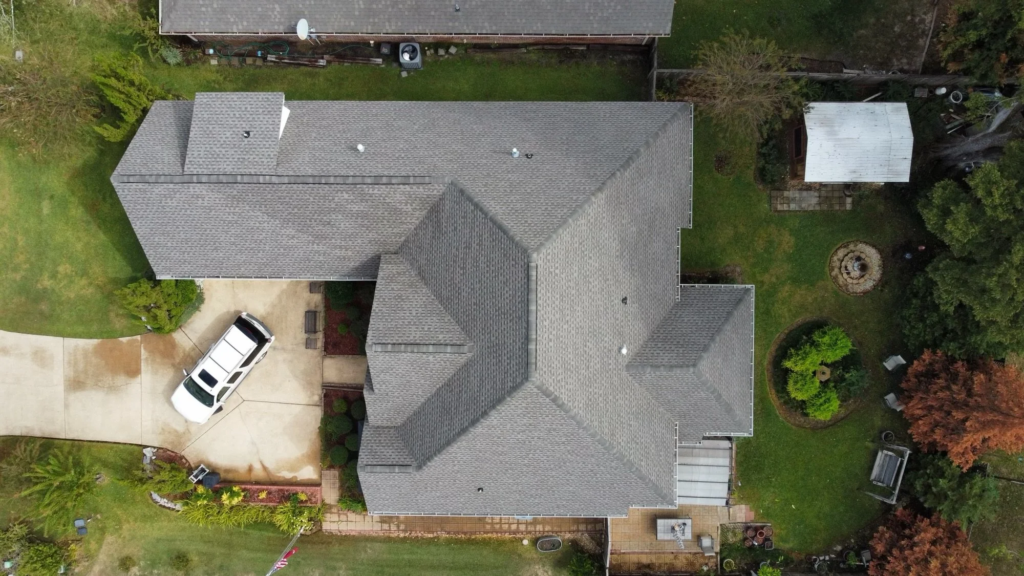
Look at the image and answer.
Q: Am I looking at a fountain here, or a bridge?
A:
fountain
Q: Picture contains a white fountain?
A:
No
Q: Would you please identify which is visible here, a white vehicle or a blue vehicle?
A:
white vehicle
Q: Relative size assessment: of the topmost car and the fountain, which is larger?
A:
the car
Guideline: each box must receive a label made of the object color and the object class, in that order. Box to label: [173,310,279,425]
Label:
white car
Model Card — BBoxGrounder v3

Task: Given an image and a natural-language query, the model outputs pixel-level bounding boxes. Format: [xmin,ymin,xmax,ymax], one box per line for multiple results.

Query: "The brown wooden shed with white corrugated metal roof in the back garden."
[791,102,914,183]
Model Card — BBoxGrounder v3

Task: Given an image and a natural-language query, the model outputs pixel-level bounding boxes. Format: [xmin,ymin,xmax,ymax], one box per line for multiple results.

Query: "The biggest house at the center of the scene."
[111,92,755,516]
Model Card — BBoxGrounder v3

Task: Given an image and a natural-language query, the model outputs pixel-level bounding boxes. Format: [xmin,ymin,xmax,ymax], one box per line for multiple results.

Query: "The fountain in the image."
[830,241,884,295]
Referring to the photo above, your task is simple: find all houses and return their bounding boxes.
[111,92,755,516]
[154,0,672,47]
